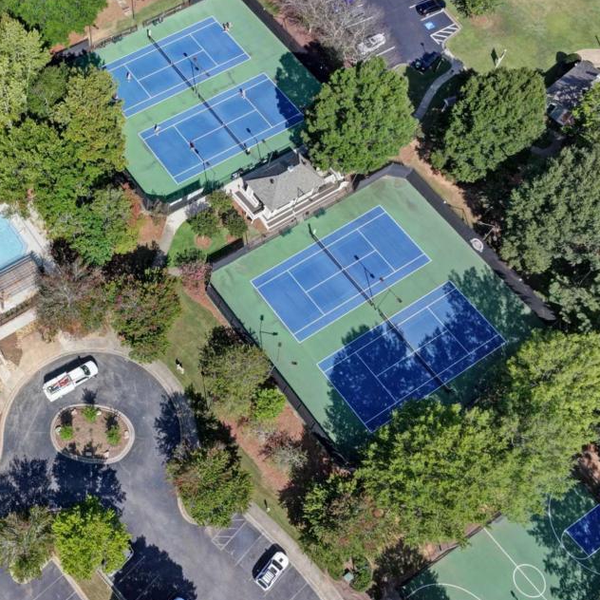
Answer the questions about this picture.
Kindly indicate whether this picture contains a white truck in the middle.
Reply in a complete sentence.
No, I see no white truck in the middle.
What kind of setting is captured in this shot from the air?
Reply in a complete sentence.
This looks like a sports ground.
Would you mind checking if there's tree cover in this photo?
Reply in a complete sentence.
Yes, there's tree cover in this view.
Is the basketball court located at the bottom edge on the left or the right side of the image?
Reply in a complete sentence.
The basketball court located at the bottom edge sits on the right side.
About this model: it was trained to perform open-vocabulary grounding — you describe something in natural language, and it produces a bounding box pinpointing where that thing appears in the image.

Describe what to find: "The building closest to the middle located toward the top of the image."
[205,150,345,239]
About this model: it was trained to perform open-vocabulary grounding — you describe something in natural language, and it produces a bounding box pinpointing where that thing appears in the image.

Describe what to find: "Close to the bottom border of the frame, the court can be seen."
[382,454,600,600]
